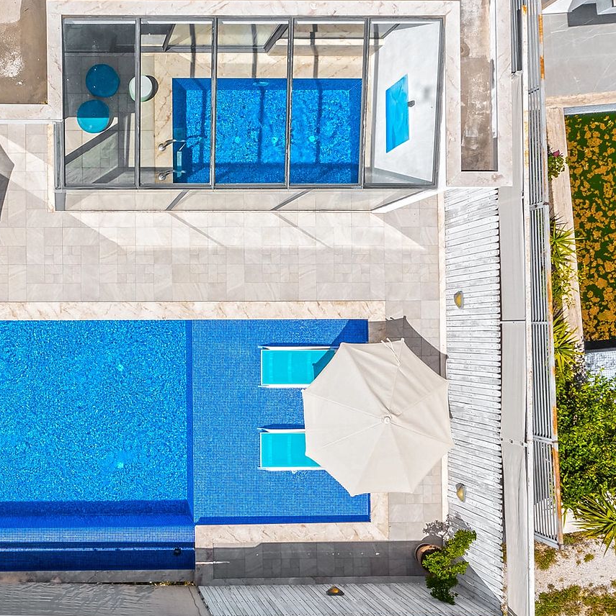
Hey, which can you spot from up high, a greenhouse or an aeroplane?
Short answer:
greenhouse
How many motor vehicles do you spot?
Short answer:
0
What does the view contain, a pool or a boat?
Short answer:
pool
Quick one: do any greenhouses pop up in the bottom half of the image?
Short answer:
No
